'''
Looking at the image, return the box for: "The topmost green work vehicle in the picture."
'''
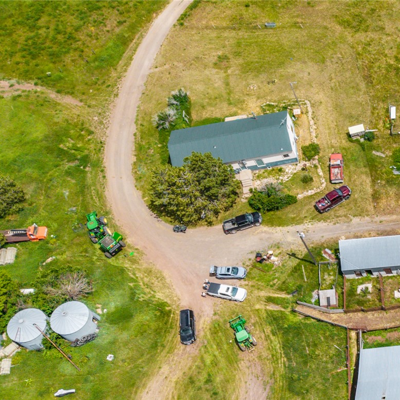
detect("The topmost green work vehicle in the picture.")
[82,207,112,239]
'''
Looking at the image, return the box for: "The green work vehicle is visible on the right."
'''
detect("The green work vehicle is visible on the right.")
[223,308,259,352]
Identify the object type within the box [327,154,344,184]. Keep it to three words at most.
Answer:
vehicle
